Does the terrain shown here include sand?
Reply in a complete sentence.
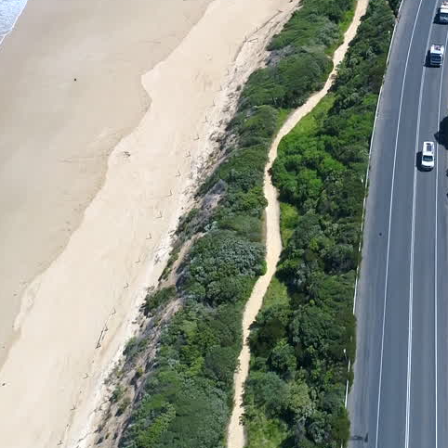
Yes, there is sand in the image.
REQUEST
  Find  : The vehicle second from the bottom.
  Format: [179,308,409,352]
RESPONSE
[427,44,442,67]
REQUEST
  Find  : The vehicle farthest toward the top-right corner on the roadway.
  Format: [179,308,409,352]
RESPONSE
[435,3,448,23]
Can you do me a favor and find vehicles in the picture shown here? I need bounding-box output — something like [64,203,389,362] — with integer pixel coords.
[427,44,442,67]
[435,3,448,23]
[420,142,435,167]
